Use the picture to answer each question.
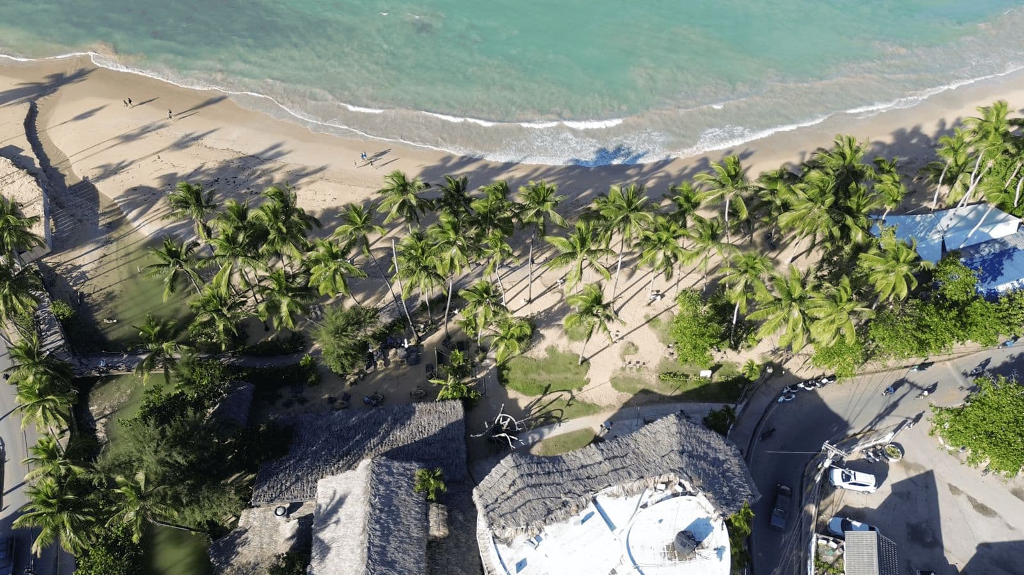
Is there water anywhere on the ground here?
Yes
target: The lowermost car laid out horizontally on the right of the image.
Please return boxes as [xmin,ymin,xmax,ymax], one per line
[825,512,881,537]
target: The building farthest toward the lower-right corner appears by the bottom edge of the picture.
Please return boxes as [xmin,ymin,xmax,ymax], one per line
[828,530,898,575]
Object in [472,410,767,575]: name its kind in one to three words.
building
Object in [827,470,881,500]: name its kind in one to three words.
car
